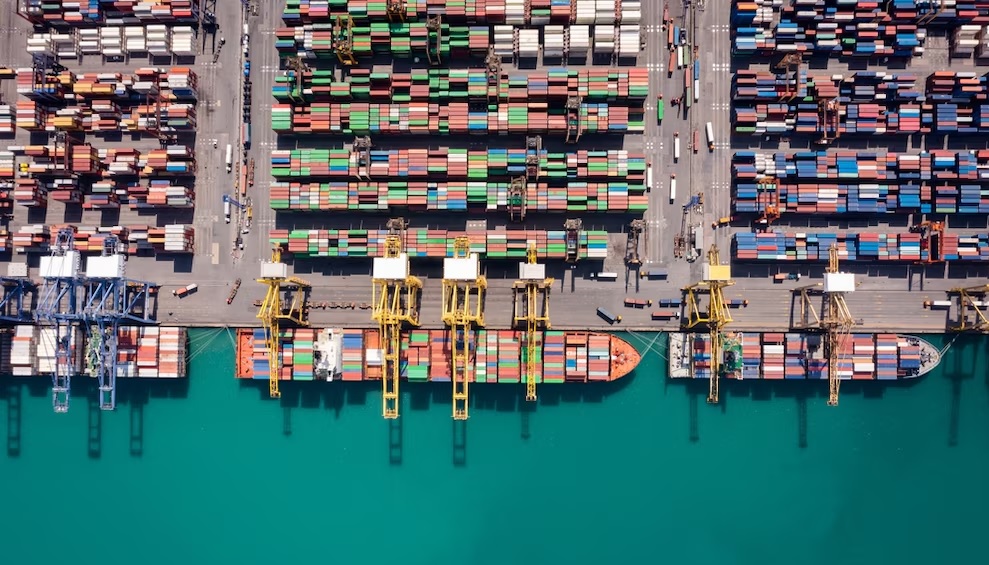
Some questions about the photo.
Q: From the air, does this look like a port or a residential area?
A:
port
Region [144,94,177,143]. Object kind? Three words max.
container crane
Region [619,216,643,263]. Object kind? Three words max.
container crane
